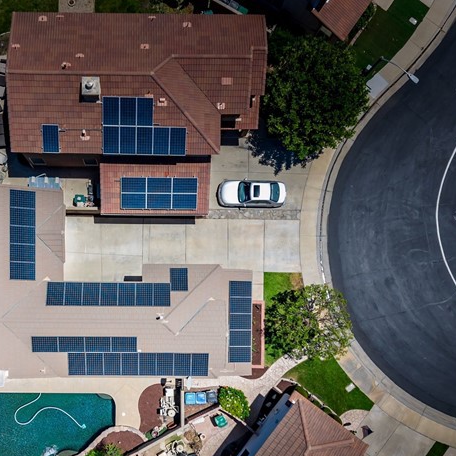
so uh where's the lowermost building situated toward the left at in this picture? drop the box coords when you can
[0,184,252,387]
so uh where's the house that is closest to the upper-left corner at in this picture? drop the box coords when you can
[5,10,268,217]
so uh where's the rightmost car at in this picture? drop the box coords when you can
[217,177,286,209]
